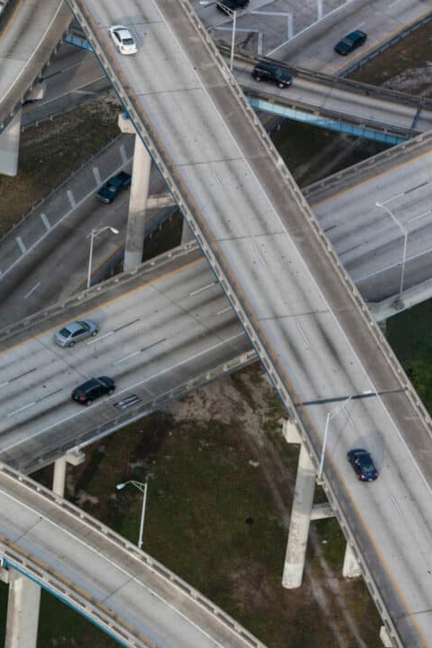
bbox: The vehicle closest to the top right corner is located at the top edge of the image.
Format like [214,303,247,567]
[334,31,367,53]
